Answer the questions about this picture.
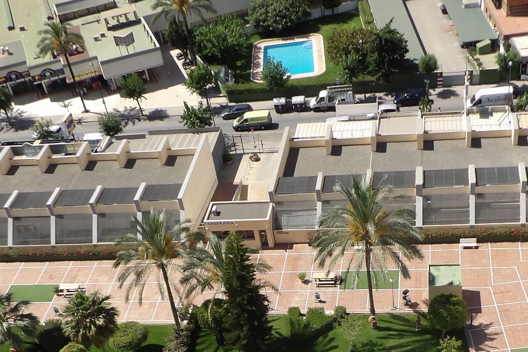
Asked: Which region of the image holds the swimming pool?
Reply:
top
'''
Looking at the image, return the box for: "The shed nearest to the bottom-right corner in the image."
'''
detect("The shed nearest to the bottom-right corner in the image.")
[428,265,462,304]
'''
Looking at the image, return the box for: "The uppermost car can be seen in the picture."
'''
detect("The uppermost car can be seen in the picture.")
[437,1,451,19]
